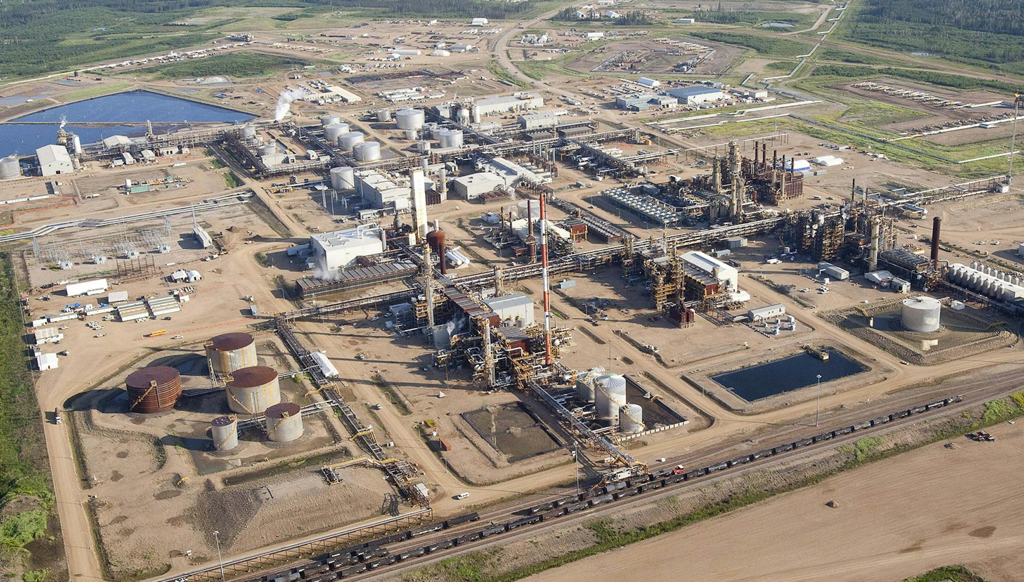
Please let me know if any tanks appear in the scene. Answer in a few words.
Yes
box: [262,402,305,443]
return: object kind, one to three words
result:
storage tank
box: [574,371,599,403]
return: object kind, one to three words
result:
silo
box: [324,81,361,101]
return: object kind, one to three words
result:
building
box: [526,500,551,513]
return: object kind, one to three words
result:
rail car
